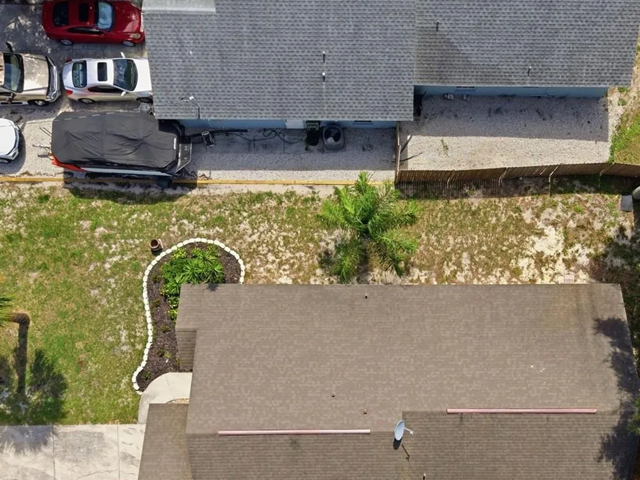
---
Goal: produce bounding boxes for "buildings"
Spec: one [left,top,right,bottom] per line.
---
[139,283,638,480]
[142,0,640,130]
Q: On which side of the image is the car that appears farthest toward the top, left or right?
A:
left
